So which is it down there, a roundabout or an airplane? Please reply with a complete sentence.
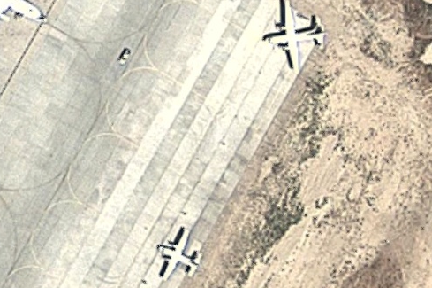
There is an airplane in the scene.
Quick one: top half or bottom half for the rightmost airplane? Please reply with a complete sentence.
The top half of the photo is where the rightmost airplane is.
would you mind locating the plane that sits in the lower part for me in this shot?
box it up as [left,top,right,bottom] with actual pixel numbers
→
[160,227,202,280]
